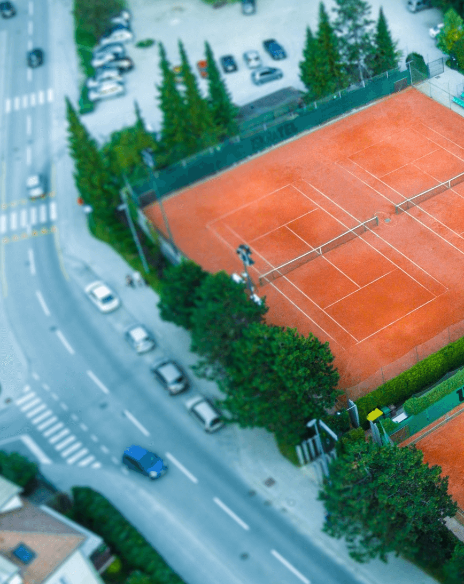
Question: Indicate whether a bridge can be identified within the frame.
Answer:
No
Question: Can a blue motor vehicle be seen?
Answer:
Yes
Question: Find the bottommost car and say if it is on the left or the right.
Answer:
left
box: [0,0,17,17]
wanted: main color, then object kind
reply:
blue car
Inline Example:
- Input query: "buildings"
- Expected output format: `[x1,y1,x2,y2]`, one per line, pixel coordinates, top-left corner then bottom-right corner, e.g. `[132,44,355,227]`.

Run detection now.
[237,86,307,133]
[0,496,102,584]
